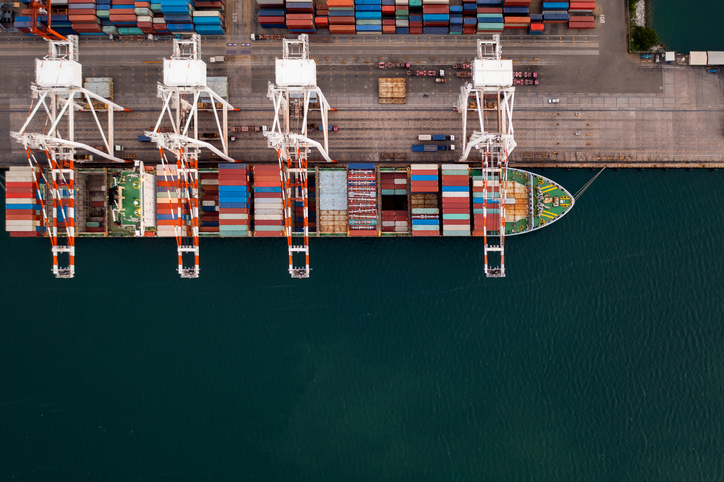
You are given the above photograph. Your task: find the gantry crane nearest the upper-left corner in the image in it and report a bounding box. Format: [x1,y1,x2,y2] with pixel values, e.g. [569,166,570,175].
[30,0,66,36]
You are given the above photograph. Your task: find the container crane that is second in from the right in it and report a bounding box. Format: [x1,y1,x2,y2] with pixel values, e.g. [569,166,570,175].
[262,33,341,281]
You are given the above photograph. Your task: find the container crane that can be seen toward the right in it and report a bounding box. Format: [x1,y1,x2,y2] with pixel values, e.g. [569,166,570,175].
[448,33,519,281]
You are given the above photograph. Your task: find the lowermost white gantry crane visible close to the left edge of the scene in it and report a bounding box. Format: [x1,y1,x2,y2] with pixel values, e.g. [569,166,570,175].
[6,33,134,281]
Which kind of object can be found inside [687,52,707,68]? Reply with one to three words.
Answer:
shed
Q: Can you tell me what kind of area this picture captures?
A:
port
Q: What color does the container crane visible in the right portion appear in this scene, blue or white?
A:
white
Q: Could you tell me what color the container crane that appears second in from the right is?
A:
white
